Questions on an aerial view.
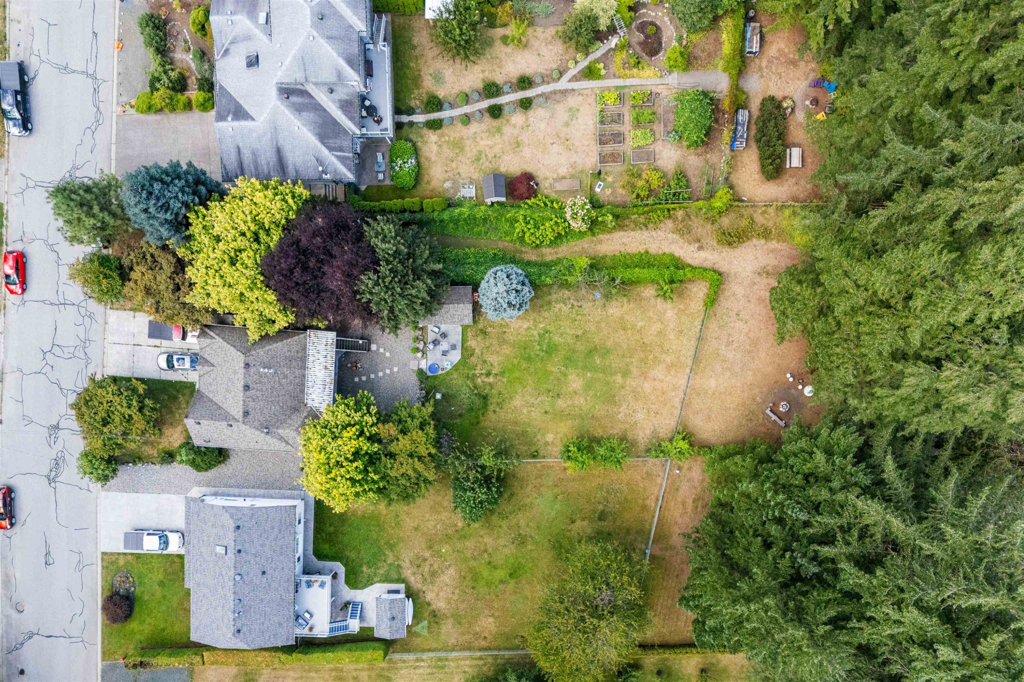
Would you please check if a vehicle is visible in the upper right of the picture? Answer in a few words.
No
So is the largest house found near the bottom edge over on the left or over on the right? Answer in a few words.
left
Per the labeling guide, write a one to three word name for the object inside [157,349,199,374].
car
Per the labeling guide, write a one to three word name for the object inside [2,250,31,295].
car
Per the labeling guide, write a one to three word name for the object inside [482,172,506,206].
shed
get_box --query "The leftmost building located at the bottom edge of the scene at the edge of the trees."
[185,495,363,650]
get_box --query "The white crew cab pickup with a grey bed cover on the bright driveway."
[123,528,185,554]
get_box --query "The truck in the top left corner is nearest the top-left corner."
[0,67,31,132]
